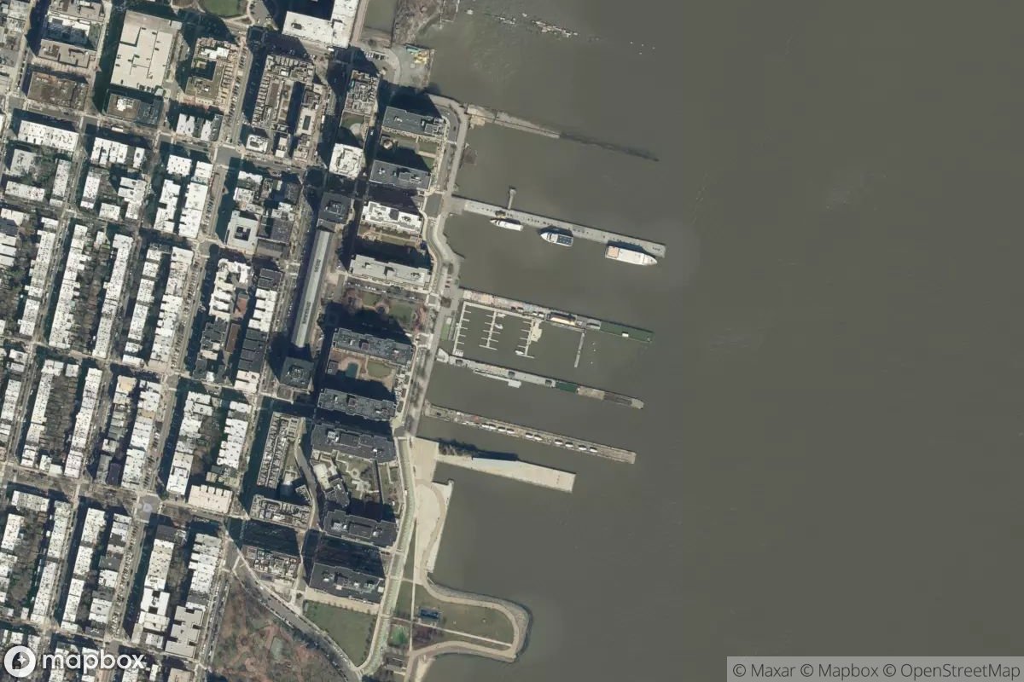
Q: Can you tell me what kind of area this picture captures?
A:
port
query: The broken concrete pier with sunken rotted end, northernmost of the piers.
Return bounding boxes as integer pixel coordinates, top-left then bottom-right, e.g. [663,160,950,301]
[467,105,563,138]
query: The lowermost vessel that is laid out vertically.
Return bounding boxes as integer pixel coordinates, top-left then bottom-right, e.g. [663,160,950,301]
[531,318,543,342]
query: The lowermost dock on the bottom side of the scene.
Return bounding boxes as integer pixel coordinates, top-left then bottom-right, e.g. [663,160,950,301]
[436,455,576,492]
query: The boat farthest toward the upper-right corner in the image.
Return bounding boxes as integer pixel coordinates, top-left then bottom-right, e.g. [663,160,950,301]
[605,247,657,264]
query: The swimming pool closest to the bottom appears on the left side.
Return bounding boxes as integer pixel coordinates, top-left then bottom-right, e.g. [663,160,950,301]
[345,362,358,377]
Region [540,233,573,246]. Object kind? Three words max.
vessel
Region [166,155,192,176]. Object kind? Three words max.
building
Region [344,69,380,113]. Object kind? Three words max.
building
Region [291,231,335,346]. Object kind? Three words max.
shed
